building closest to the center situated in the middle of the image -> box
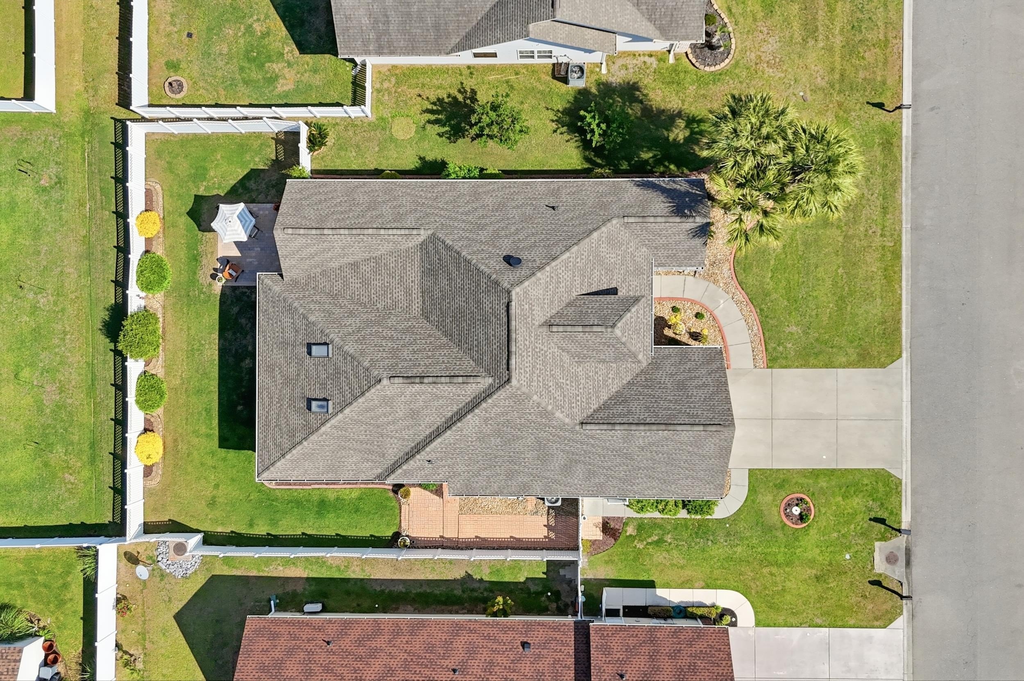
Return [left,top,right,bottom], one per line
[254,177,738,501]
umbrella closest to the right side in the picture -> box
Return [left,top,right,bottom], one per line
[211,202,257,244]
